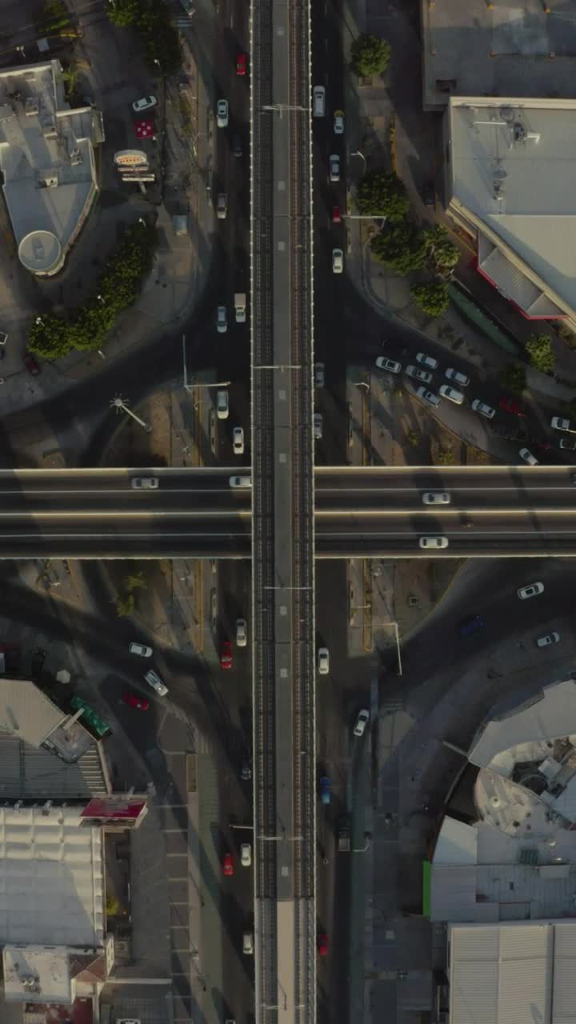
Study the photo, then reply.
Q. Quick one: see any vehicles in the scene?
Yes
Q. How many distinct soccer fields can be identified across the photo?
none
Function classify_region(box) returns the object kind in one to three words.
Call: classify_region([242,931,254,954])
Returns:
vehicle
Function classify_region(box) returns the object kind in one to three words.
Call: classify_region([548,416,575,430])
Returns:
vehicle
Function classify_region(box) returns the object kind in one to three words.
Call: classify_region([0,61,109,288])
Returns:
building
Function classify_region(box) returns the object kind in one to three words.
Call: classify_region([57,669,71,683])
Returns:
umbrella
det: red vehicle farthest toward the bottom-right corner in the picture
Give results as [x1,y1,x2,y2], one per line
[317,933,329,955]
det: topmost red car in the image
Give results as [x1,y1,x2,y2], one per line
[235,52,248,77]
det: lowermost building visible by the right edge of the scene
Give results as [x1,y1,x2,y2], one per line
[442,920,576,1024]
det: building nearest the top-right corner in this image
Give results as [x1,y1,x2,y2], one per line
[419,0,576,124]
